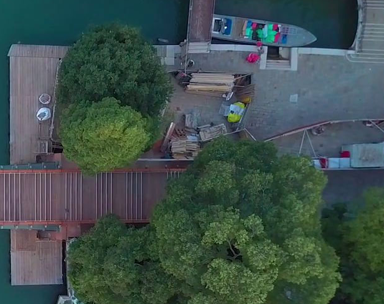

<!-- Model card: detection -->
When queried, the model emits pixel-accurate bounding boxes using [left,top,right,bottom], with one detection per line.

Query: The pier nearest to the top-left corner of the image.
[9,55,61,164]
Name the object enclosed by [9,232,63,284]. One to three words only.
pier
